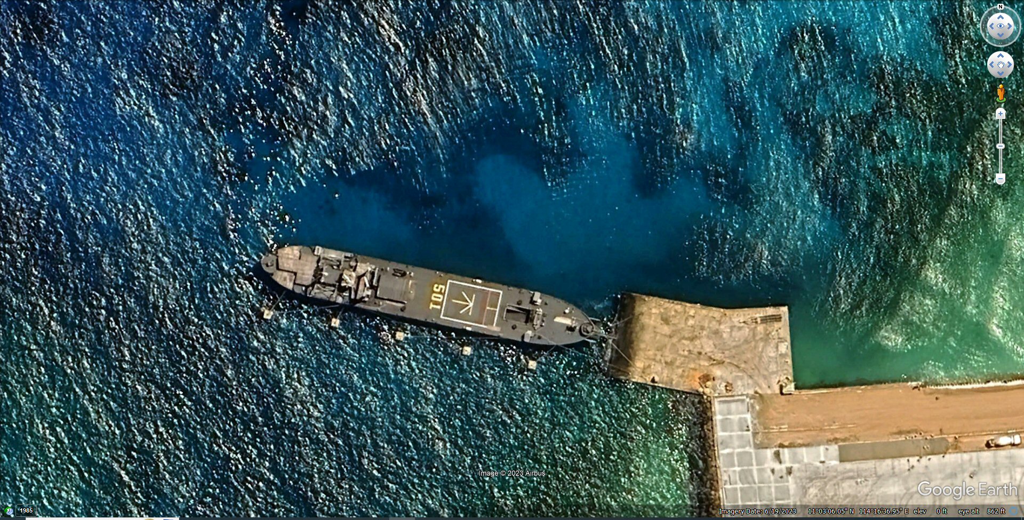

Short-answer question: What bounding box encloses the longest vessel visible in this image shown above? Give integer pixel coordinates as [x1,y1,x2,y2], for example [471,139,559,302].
[261,245,617,345]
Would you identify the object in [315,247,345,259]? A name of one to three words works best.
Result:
boat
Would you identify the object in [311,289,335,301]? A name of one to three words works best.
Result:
boat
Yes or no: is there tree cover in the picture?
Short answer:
No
